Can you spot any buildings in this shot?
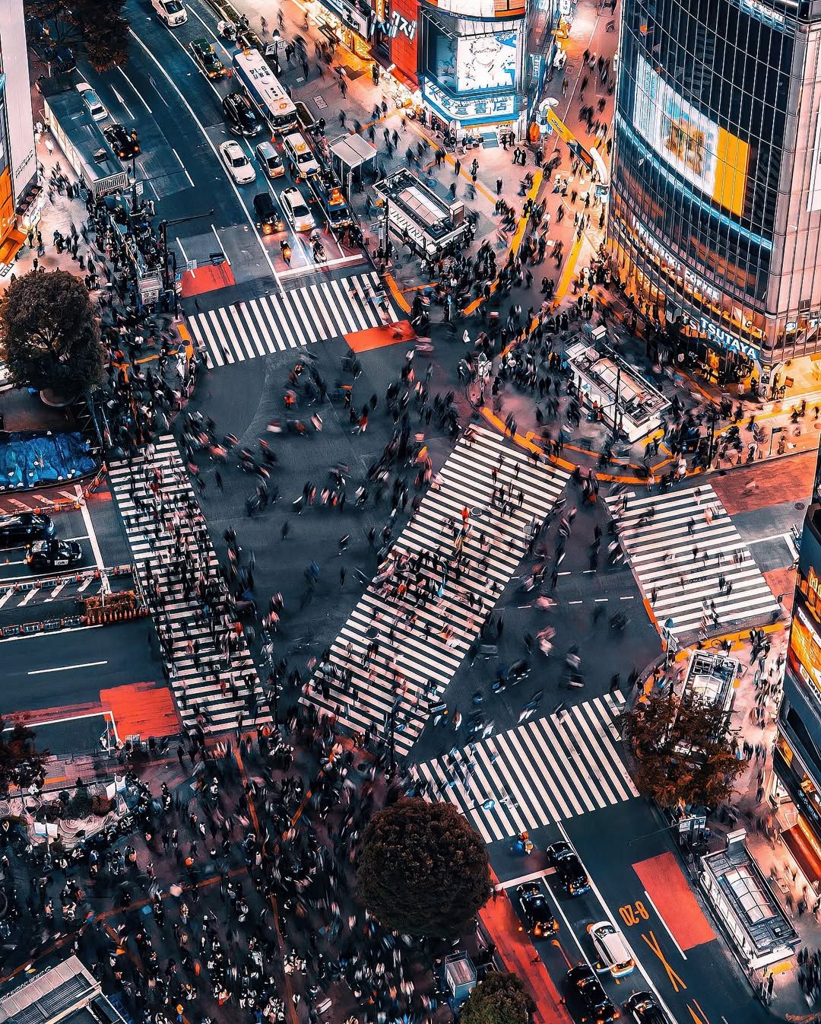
Yes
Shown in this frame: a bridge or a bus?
bus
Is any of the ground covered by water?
No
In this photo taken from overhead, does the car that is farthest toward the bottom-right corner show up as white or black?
black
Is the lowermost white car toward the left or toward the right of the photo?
right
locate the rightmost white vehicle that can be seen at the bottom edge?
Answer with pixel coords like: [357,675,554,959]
[592,918,637,979]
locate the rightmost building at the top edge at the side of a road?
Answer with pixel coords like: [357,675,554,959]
[604,0,821,406]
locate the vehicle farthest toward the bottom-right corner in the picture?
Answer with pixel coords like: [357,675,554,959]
[631,983,673,1024]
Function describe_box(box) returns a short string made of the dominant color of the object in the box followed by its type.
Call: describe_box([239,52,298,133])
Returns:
white bus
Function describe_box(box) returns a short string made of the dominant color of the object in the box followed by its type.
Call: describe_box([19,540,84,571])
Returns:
black car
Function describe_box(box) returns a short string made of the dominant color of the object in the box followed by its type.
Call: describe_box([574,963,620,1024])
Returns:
black car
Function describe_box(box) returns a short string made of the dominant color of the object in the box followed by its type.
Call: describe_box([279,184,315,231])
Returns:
white car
